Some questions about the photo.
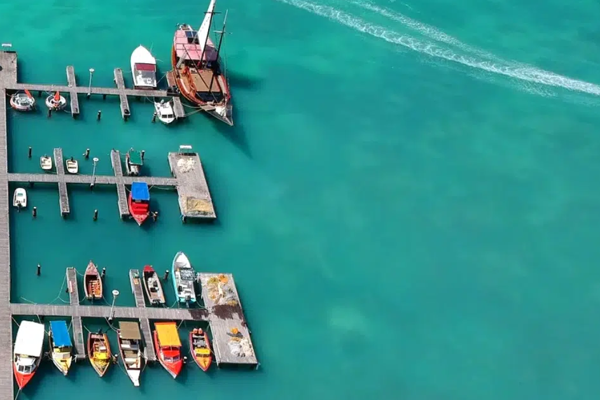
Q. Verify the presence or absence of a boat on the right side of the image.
No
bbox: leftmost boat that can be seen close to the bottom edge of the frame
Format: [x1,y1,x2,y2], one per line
[11,317,48,391]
